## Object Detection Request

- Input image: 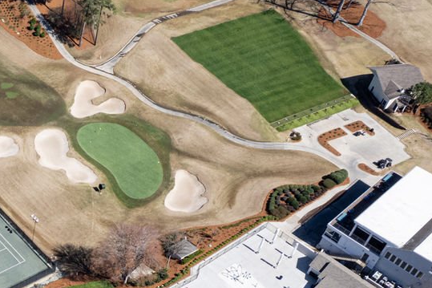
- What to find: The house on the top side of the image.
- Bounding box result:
[367,67,426,113]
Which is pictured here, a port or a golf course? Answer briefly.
golf course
